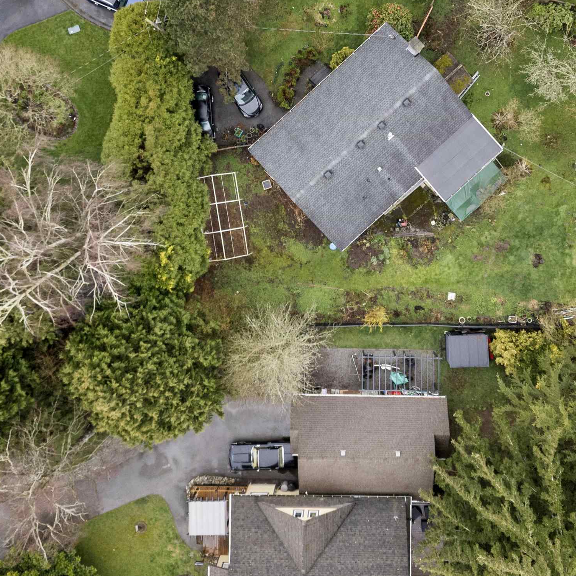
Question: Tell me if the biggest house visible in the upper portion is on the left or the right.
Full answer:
The biggest house visible in the upper portion is on the right side of the image.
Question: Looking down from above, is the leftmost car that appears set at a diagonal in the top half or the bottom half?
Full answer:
The leftmost car that appears set at a diagonal sits in the top half of the picture.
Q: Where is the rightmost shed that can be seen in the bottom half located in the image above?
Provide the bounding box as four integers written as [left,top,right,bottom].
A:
[444,331,489,367]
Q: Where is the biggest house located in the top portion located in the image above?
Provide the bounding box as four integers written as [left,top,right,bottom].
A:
[247,21,504,252]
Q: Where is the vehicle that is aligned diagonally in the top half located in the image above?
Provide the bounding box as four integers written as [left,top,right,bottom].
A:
[210,61,267,118]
